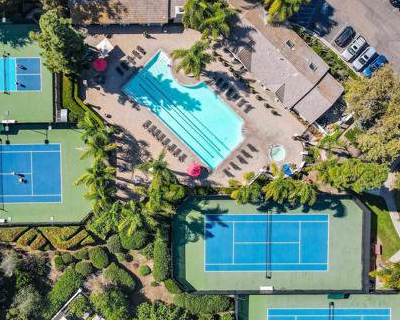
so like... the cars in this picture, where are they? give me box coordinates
[333,24,357,48]
[365,53,388,72]
[352,46,378,71]
[342,36,368,61]
[389,0,400,8]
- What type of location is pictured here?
sports ground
